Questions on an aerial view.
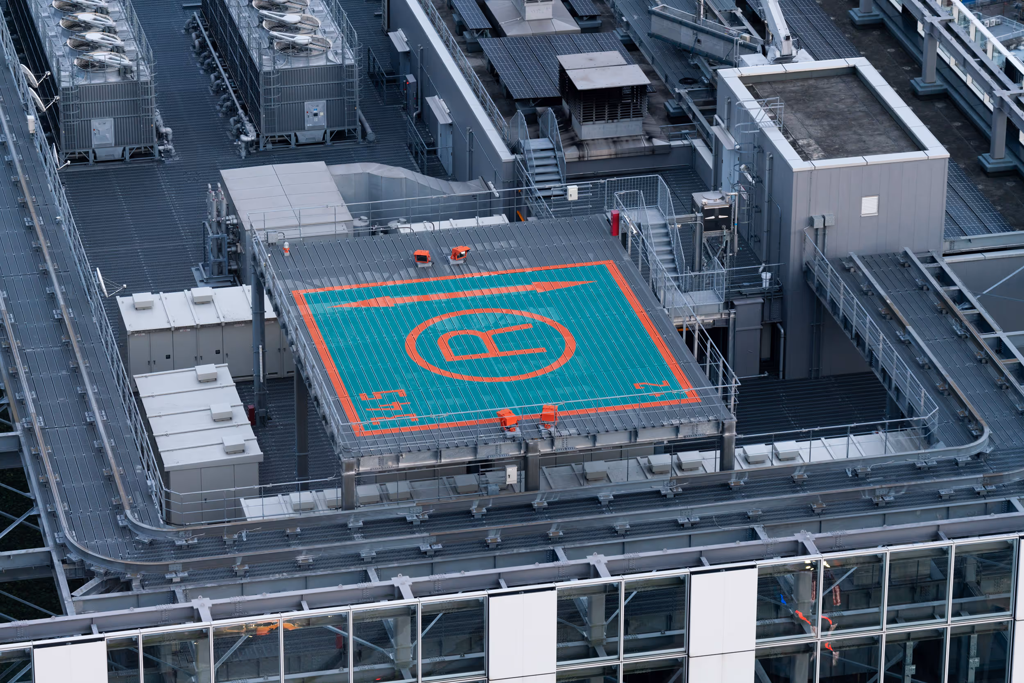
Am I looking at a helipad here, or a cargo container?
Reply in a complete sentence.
The image shows a helipad.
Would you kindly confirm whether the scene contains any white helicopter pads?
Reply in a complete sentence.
No, there appears to be no white helicopter pad in this shot.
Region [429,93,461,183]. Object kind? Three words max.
shed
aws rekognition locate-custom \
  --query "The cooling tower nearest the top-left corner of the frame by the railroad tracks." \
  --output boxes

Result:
[4,0,165,170]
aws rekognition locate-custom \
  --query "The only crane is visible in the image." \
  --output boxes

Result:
[737,0,809,68]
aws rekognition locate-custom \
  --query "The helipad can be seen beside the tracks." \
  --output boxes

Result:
[252,212,737,617]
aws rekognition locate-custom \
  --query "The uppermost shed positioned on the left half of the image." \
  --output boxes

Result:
[390,27,418,108]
